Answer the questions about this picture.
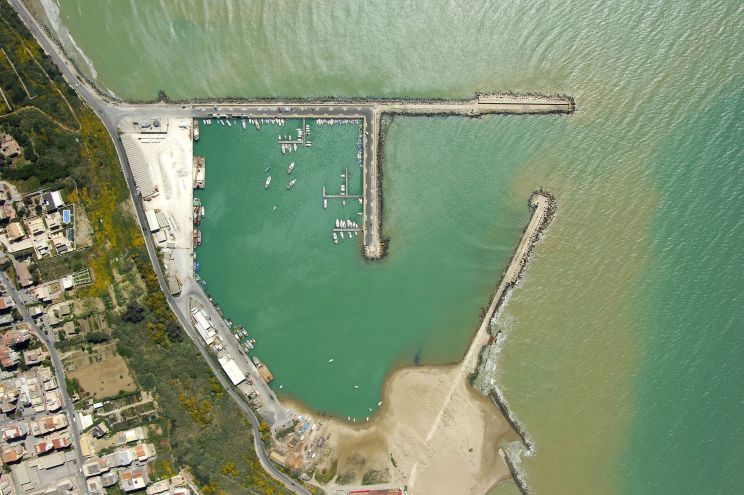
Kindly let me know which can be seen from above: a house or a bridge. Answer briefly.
house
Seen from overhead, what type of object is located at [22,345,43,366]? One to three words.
house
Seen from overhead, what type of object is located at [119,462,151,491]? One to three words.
house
